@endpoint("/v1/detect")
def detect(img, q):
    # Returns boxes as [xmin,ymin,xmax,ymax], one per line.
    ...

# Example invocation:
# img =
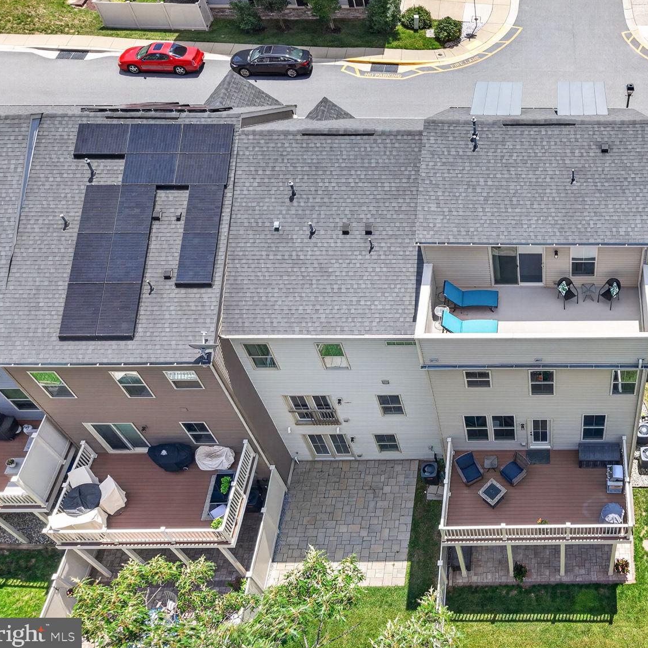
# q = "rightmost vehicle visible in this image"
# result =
[233,39,321,77]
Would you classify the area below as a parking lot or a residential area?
residential area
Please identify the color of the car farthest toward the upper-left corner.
red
